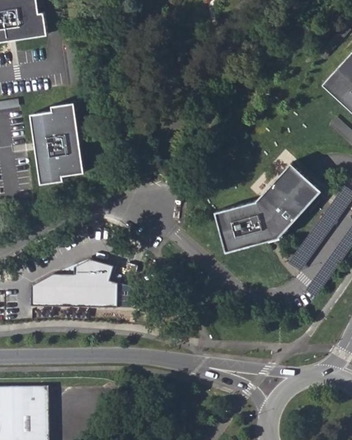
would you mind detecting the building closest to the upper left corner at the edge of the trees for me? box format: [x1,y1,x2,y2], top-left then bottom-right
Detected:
[0,0,49,44]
